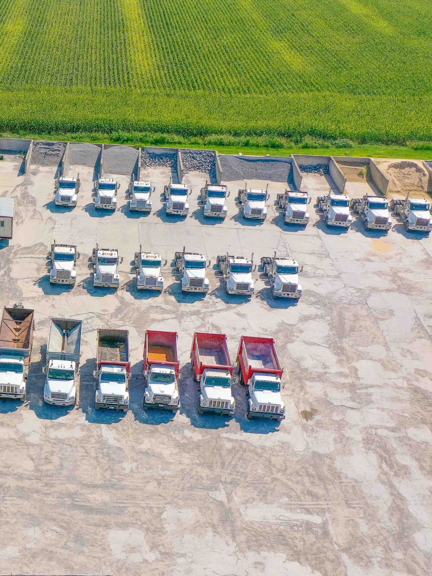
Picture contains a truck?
Yes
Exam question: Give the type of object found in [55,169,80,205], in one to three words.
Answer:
truck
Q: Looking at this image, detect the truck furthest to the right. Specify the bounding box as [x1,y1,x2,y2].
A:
[389,193,432,232]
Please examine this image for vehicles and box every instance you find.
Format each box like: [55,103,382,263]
[49,239,79,283]
[313,188,354,227]
[197,179,229,216]
[134,244,168,290]
[217,248,257,295]
[91,243,123,287]
[261,252,305,298]
[351,190,393,230]
[55,169,80,205]
[274,186,312,223]
[94,172,120,209]
[389,193,432,232]
[0,304,35,399]
[235,181,269,218]
[141,328,184,411]
[42,318,81,405]
[235,333,288,419]
[95,327,134,410]
[127,175,155,211]
[162,178,192,214]
[177,246,212,293]
[190,330,239,414]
